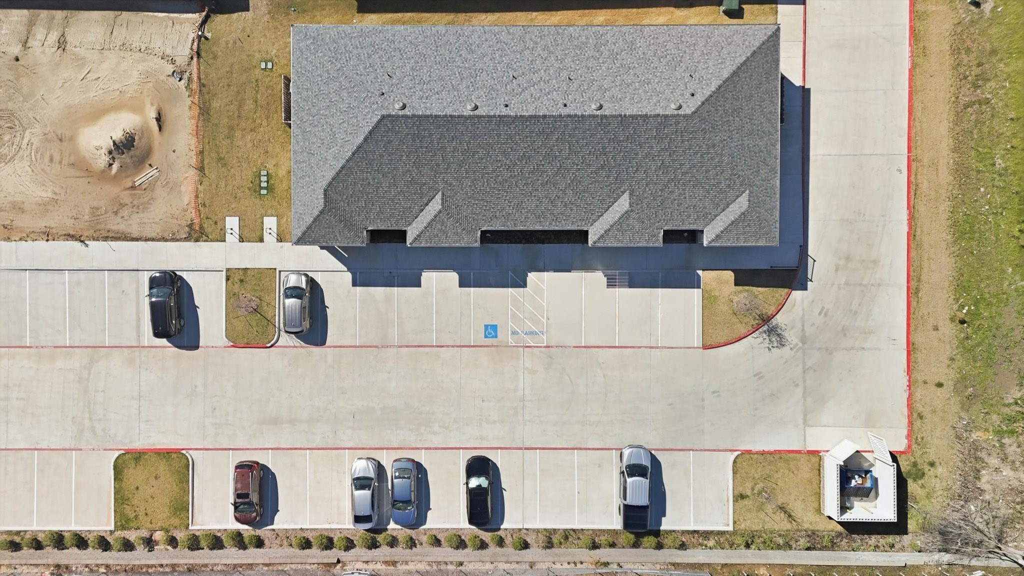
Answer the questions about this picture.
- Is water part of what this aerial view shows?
No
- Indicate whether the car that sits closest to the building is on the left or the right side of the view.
left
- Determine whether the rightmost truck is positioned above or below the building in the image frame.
below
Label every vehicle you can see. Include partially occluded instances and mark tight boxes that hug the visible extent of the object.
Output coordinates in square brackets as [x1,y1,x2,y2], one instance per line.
[348,456,380,528]
[388,457,418,525]
[619,444,654,532]
[462,454,493,527]
[279,272,312,335]
[144,271,184,338]
[229,459,263,523]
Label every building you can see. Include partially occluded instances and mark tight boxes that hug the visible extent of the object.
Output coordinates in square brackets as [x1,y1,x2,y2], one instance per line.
[290,23,781,247]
